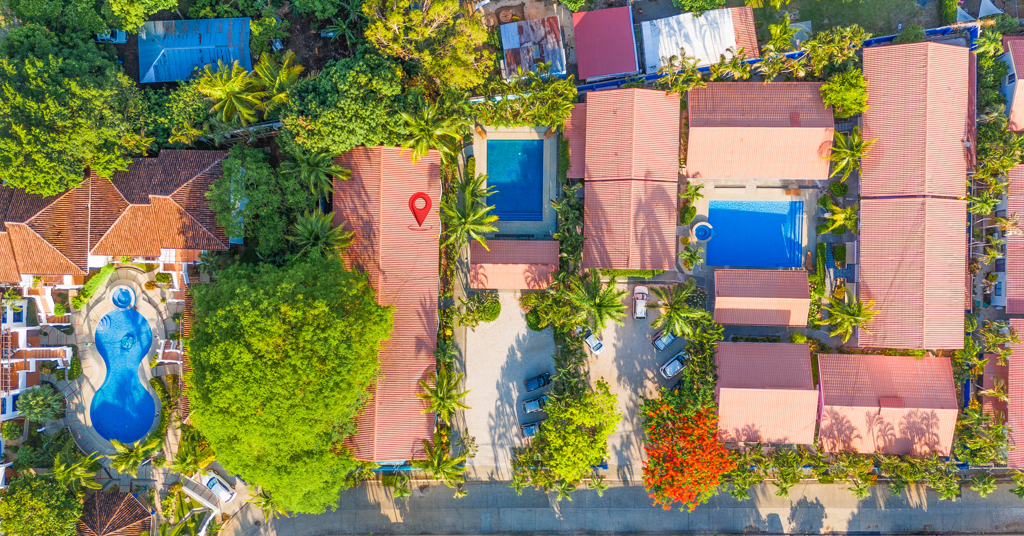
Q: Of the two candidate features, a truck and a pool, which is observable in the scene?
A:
pool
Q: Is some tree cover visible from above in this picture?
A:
Yes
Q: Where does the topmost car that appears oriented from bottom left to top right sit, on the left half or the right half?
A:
right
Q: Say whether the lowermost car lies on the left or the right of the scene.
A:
left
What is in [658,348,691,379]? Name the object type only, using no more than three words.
car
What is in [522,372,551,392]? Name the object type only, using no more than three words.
car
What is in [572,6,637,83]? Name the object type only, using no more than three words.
house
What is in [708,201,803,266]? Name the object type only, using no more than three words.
swimming pool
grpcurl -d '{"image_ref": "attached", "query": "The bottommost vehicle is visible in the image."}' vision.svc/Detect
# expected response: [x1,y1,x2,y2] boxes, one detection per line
[204,470,241,504]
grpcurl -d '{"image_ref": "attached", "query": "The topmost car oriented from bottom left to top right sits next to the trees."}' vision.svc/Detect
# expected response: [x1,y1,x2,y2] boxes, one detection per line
[650,325,685,354]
